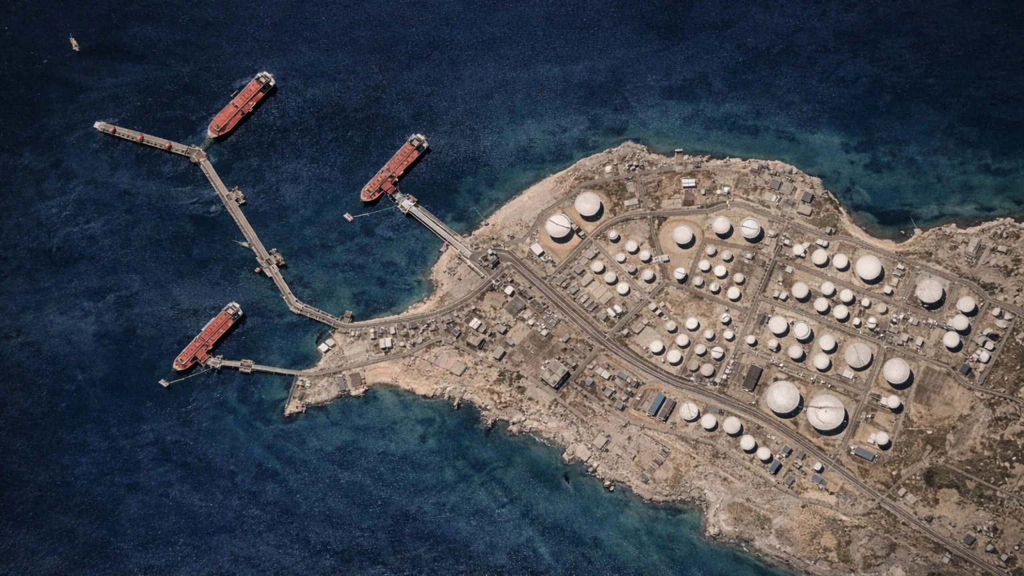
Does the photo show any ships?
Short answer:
Yes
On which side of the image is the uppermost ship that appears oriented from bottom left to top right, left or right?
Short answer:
left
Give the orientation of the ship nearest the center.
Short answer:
at an angle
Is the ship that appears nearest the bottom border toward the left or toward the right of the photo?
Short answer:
left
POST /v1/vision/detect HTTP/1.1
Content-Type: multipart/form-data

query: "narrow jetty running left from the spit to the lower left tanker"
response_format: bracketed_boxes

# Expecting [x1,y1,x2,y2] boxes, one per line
[199,352,299,376]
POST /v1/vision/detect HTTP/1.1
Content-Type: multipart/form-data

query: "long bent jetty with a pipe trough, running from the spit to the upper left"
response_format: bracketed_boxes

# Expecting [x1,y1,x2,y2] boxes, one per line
[94,120,340,330]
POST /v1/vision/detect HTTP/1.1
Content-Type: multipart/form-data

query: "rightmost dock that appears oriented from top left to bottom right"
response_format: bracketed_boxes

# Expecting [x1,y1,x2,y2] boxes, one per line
[391,191,485,276]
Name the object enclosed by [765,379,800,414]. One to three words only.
storage tank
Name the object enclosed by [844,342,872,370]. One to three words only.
storage tank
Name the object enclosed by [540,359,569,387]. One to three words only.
building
